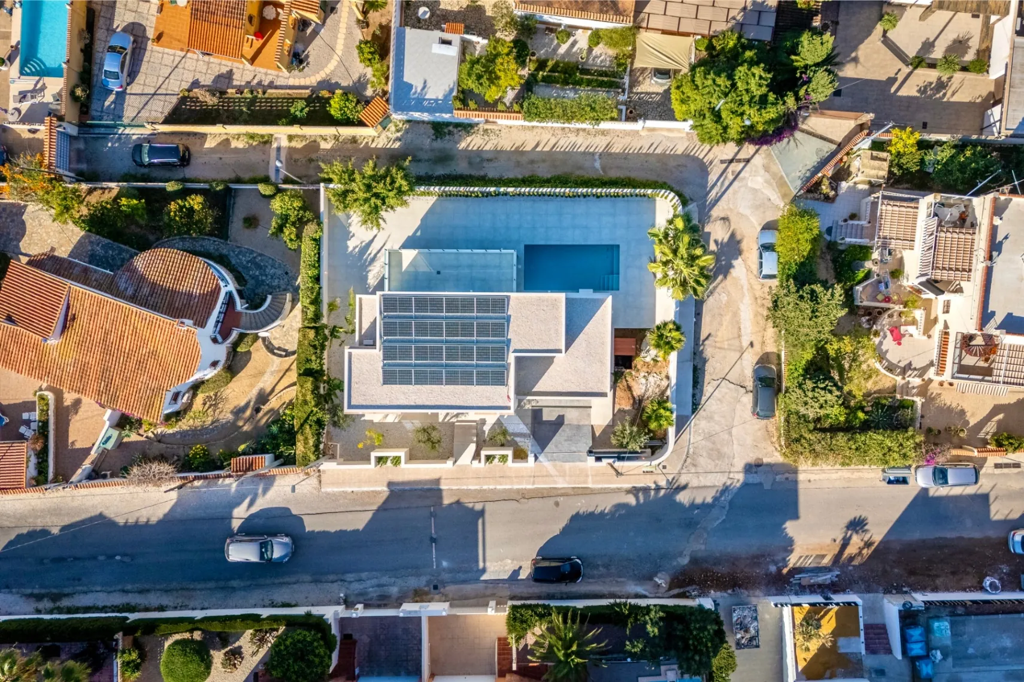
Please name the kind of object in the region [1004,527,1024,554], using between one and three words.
car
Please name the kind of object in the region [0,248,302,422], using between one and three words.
house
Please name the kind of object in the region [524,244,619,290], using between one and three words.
swimming pool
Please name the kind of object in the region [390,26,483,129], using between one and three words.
house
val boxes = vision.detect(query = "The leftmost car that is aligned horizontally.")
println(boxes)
[131,139,193,169]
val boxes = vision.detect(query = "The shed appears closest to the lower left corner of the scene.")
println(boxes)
[0,437,51,489]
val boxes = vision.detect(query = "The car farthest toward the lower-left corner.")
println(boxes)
[226,533,294,564]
